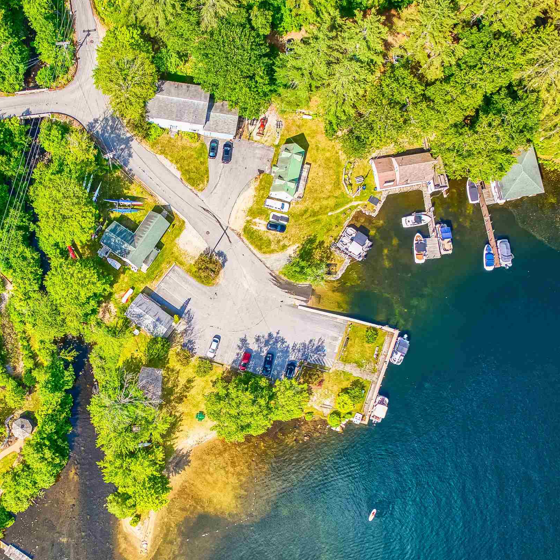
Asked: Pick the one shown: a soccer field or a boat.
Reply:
boat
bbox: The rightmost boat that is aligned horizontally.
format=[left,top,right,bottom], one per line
[398,213,431,229]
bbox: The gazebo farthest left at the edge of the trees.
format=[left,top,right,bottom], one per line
[13,419,32,438]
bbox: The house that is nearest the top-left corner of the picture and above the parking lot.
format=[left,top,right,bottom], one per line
[146,78,209,137]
